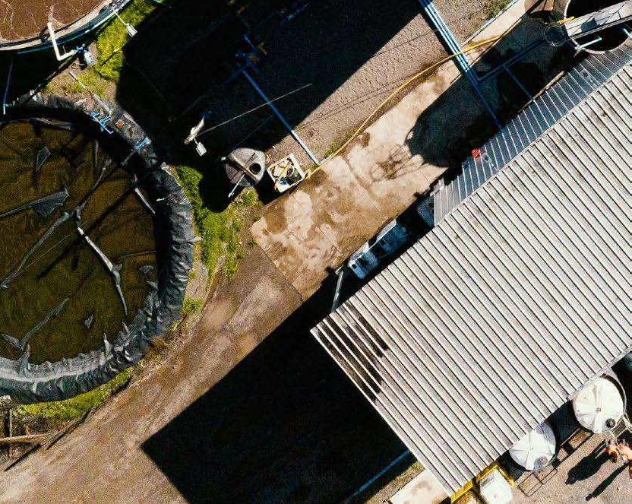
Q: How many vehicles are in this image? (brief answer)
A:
2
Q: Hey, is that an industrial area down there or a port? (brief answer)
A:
industrial area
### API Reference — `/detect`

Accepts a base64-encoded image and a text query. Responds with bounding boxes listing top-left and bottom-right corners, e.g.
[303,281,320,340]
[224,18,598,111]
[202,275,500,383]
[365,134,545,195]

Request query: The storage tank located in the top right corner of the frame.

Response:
[543,0,632,55]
